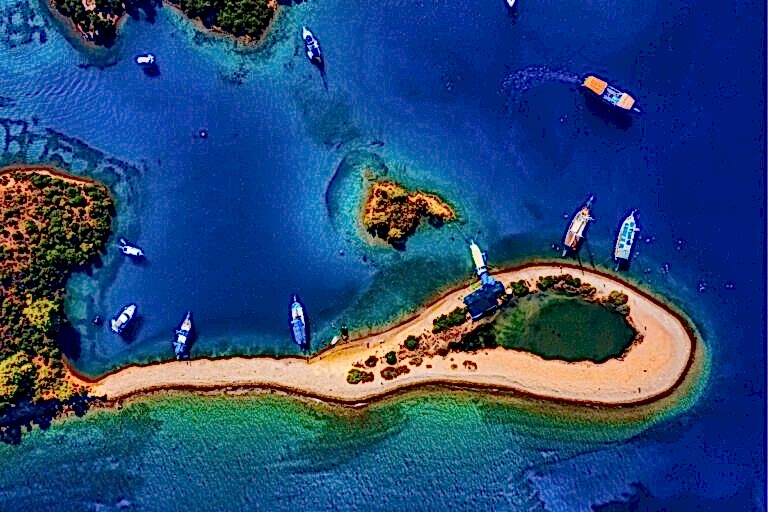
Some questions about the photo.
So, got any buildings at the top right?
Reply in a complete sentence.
No, the scene shows no building at the top right.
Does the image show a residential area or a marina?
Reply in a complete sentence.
The picture captures a marina.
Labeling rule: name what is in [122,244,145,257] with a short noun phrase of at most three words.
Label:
boat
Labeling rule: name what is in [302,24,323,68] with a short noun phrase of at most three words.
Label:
boat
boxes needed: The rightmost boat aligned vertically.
[615,209,644,268]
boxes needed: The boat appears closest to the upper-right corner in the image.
[580,73,644,112]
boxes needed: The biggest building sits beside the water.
[460,280,503,321]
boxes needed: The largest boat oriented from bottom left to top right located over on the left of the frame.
[109,306,136,335]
